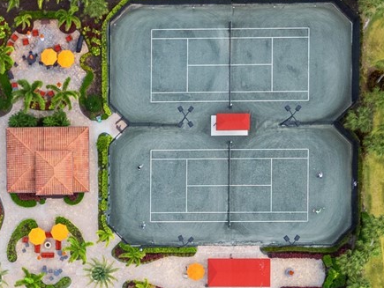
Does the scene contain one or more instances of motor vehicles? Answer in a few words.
No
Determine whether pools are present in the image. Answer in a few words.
No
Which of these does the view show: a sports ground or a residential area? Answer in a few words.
sports ground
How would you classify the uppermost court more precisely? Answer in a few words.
tennis court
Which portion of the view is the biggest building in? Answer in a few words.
left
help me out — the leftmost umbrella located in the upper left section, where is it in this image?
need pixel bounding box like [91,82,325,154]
[42,49,57,65]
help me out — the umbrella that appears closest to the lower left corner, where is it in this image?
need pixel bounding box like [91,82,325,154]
[29,229,45,245]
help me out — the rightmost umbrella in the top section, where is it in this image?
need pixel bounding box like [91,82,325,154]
[58,51,73,67]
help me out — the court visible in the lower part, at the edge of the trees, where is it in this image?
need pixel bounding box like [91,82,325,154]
[111,123,352,244]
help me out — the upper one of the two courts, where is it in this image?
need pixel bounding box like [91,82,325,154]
[111,3,352,124]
